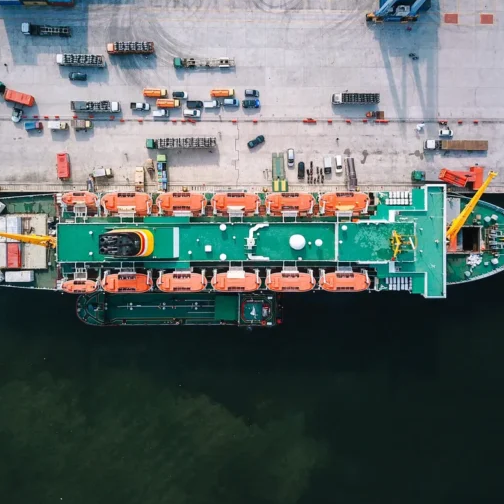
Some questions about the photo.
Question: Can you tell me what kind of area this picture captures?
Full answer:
What you see here is a port.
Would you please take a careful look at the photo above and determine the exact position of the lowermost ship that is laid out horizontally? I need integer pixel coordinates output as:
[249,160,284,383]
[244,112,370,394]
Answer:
[76,291,282,328]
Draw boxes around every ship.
[76,291,282,328]
[0,172,504,298]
